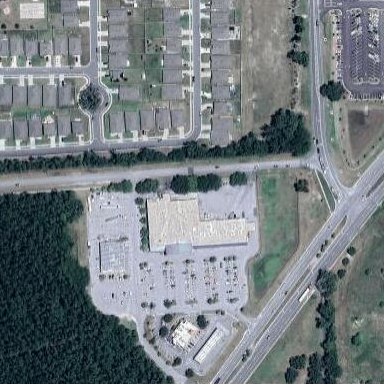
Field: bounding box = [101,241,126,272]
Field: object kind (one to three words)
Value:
building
